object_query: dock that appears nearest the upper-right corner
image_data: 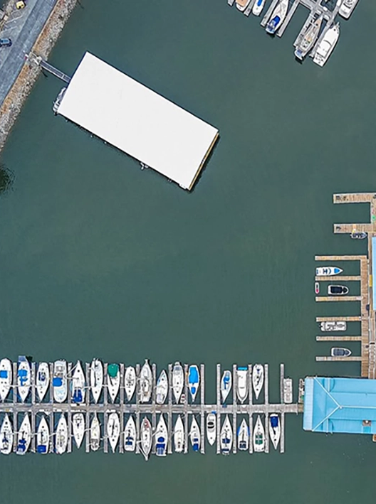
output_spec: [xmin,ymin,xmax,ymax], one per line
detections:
[228,0,340,57]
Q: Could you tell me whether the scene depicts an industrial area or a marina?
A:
marina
